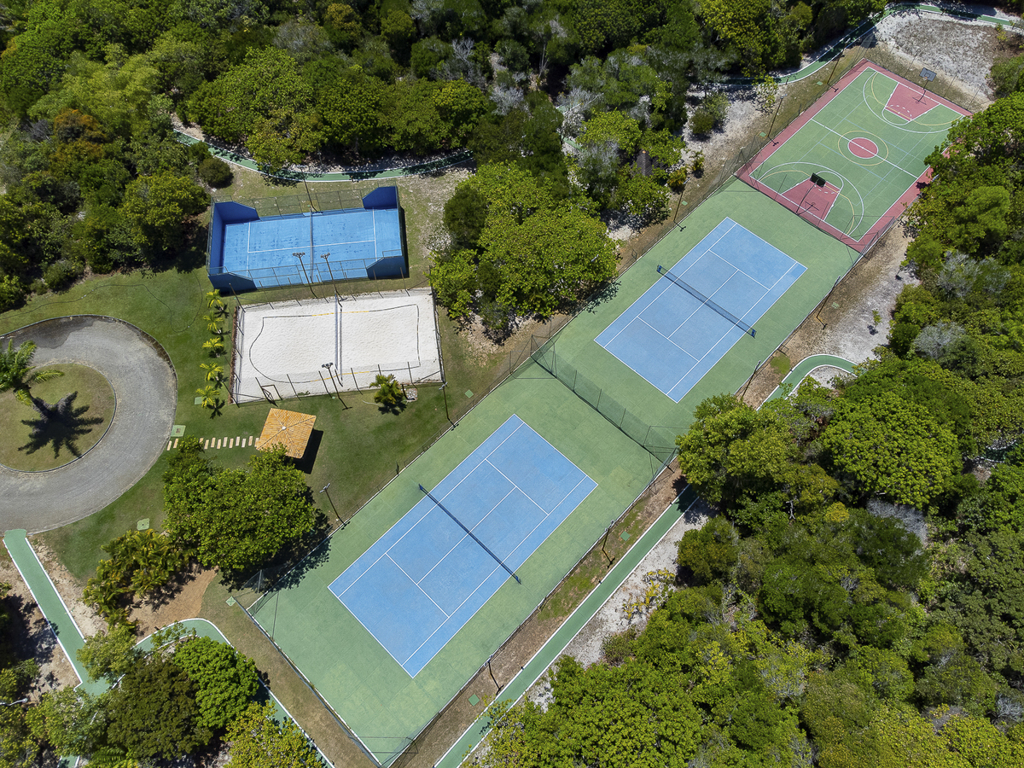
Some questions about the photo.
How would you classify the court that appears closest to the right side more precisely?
basketball court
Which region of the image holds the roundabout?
left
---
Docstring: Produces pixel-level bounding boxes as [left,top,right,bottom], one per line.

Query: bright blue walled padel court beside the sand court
[205,182,403,293]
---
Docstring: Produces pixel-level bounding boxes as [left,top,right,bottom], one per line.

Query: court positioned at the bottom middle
[246,355,668,768]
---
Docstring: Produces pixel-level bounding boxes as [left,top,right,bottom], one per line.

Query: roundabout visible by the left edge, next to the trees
[0,313,178,536]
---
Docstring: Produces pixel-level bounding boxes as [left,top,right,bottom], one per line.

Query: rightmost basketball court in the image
[734,57,979,252]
